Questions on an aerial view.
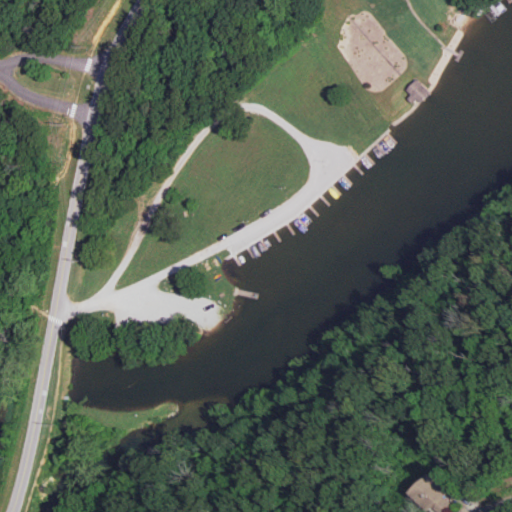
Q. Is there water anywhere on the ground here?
Yes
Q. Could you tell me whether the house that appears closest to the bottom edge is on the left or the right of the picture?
right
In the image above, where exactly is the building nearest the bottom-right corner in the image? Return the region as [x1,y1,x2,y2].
[408,477,448,512]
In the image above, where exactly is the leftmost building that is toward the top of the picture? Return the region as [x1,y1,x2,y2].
[405,77,431,104]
